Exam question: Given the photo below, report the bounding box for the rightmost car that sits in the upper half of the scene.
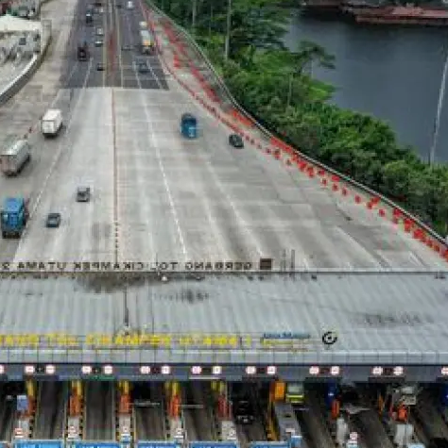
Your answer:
[226,132,242,145]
